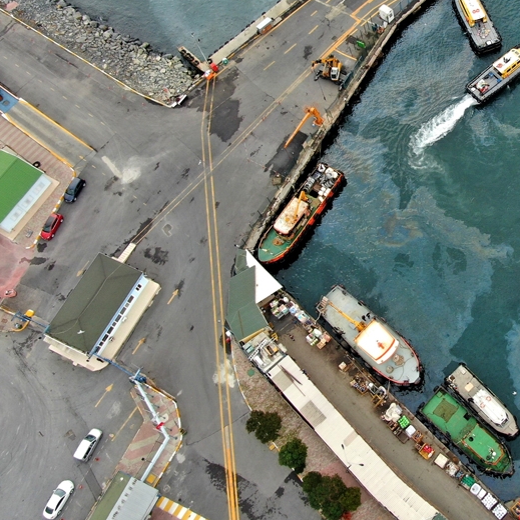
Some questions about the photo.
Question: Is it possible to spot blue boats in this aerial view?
No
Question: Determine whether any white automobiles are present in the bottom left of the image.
Yes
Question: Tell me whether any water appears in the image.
Yes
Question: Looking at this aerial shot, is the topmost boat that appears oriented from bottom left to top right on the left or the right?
right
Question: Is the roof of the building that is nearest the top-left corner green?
Yes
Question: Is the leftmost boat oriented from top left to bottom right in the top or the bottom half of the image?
bottom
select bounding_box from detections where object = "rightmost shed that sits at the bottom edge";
[269,360,440,520]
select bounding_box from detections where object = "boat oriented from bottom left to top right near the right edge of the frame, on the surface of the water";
[465,47,520,106]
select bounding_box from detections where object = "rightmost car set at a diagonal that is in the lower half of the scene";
[70,426,105,464]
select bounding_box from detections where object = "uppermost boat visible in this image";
[450,0,503,57]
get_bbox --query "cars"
[62,174,89,204]
[40,479,77,520]
[40,212,65,241]
[70,426,105,464]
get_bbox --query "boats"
[418,387,518,481]
[450,0,503,57]
[308,288,424,389]
[465,47,520,106]
[254,161,345,266]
